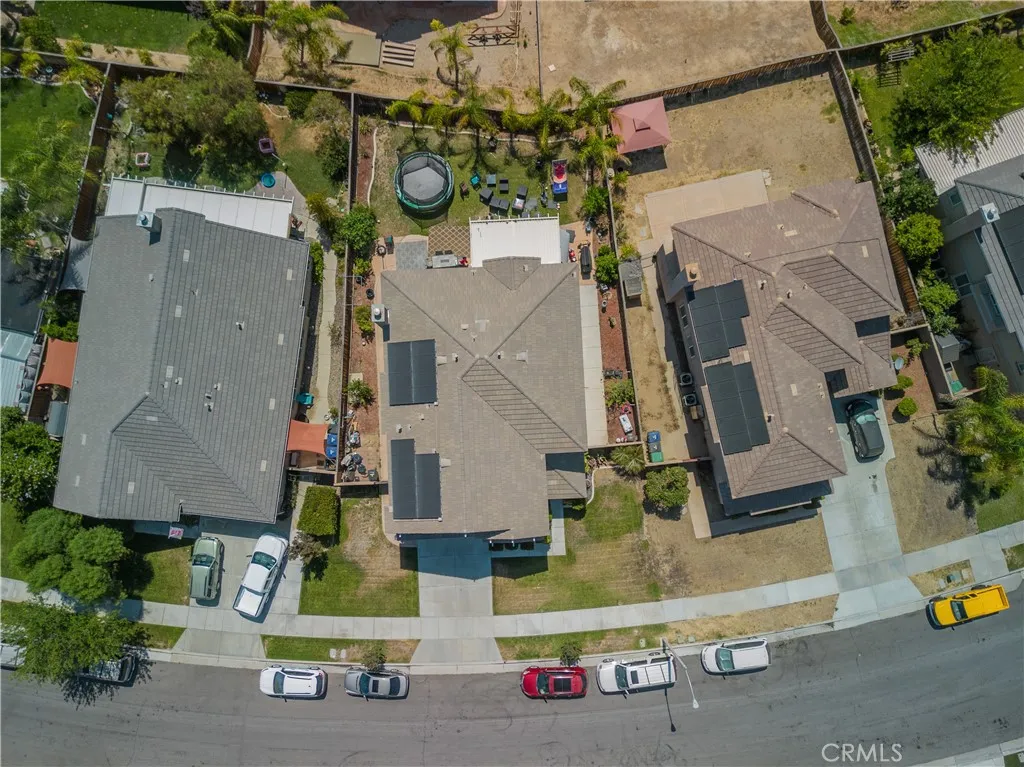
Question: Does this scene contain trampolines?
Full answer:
Yes, there is a trampoline in the image.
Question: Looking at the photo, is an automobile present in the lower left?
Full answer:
Yes, an automobile appears in the lower left.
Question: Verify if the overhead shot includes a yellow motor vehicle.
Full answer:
Yes, I can see a yellow motor vehicle in this picture.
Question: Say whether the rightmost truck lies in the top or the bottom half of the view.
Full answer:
You can find the rightmost truck in the bottom half.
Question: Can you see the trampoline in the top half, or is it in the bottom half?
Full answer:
You can find the trampoline in the top half.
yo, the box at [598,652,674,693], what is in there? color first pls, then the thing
white car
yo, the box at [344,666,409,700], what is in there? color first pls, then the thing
gray car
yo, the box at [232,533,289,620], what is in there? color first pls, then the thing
white truck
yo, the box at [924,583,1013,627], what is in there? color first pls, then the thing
yellow truck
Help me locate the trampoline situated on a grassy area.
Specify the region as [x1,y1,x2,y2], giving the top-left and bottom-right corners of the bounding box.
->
[394,154,454,220]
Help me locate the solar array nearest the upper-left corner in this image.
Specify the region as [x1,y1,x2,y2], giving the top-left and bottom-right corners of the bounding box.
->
[387,340,435,405]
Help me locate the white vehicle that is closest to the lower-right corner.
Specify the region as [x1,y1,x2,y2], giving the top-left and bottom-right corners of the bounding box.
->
[700,637,770,675]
